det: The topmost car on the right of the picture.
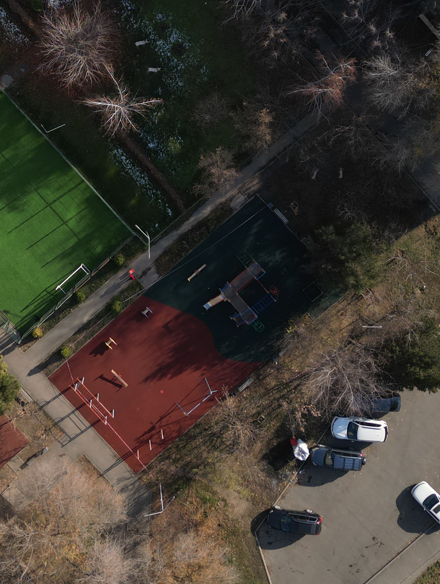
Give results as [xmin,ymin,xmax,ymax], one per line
[348,390,404,416]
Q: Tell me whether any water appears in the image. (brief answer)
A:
No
